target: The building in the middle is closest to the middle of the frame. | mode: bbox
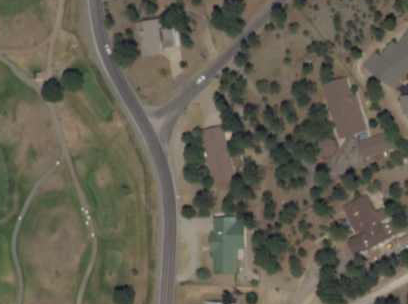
[202,126,234,189]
